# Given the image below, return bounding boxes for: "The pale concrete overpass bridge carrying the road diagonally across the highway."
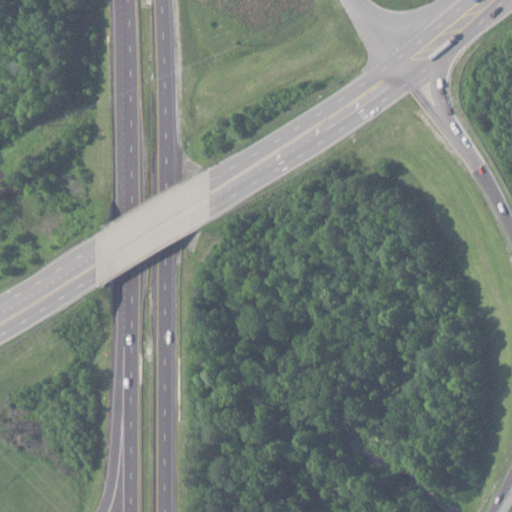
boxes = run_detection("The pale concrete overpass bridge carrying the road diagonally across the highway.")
[94,151,209,322]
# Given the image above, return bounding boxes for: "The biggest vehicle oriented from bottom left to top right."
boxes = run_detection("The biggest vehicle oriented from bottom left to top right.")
[428,32,465,58]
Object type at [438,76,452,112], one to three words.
vehicle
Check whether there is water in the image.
No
